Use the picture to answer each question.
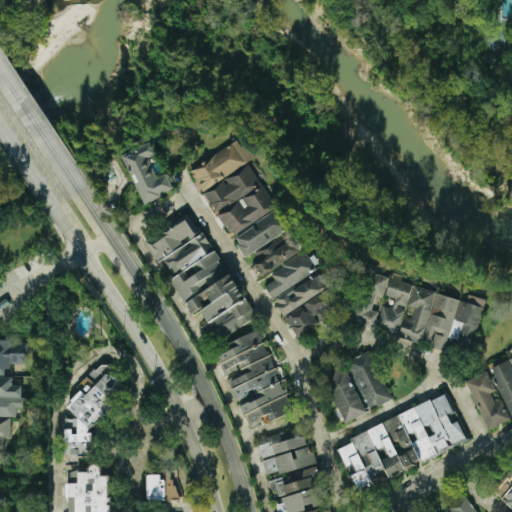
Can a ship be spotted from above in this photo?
No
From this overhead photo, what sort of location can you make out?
residential area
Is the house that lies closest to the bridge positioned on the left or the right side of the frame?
left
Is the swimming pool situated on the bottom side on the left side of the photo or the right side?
left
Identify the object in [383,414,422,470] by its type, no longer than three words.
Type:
house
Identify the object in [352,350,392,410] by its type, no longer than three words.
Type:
house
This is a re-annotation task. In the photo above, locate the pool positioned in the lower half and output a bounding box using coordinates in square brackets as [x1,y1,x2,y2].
[72,307,96,340]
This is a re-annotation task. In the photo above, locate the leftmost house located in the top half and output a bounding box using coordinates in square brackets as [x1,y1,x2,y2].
[122,143,172,202]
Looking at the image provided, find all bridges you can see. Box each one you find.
[0,50,49,150]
